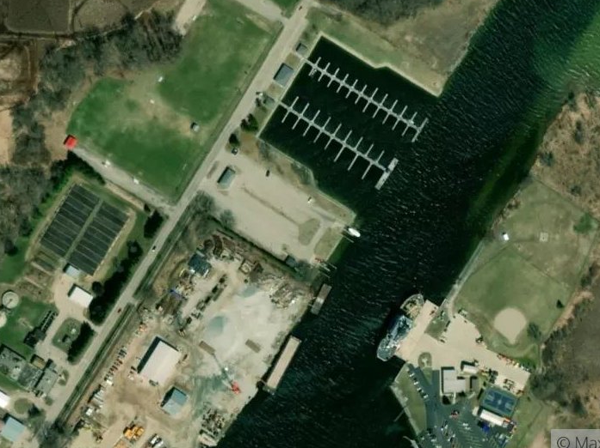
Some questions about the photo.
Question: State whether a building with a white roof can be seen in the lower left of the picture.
Yes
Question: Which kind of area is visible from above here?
port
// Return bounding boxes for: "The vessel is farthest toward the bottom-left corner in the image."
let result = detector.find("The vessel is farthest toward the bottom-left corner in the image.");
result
[200,433,217,448]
